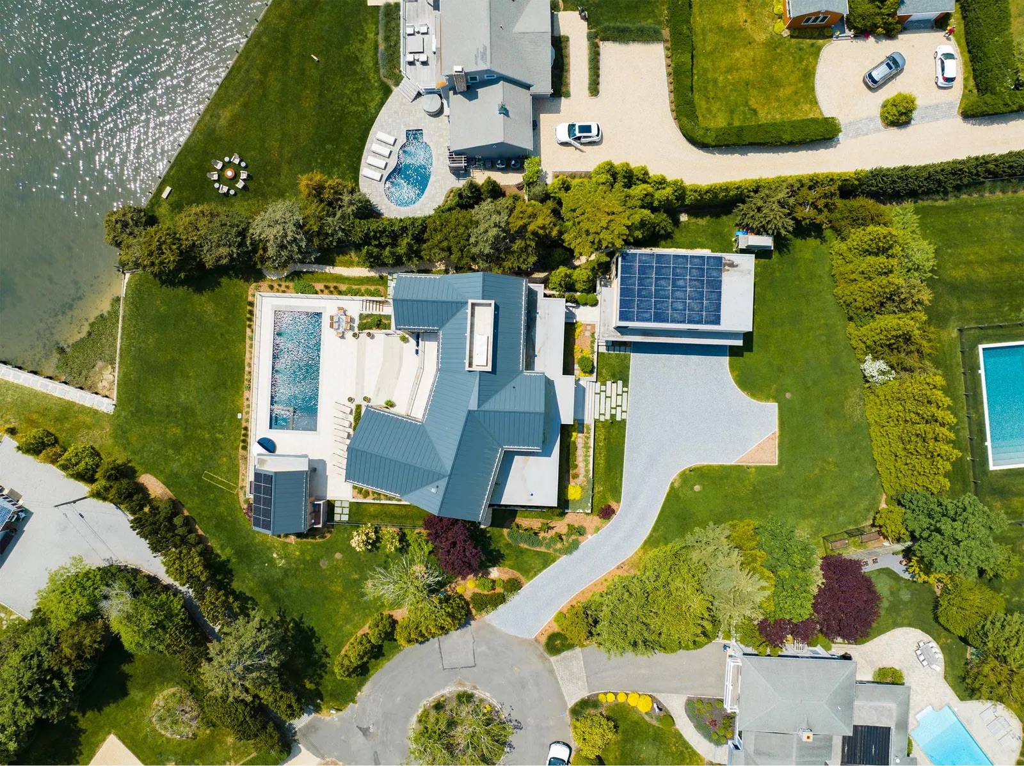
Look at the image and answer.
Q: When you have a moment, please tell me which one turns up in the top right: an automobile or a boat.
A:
automobile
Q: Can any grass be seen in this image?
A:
Yes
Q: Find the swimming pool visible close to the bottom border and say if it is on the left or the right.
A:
right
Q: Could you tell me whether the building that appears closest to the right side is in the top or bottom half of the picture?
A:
top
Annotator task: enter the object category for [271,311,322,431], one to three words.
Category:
swimming pool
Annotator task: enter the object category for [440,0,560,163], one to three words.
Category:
house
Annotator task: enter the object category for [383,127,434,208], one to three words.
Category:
swimming pool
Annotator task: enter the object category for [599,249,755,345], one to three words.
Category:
building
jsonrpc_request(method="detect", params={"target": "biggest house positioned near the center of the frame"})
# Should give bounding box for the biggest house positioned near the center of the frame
[345,271,595,522]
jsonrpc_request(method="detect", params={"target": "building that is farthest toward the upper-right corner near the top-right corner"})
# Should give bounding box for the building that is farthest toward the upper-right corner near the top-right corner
[896,0,955,31]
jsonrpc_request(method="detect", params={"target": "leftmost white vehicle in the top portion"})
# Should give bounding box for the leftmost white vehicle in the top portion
[554,118,600,148]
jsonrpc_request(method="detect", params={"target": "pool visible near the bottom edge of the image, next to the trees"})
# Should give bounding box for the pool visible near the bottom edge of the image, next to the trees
[910,705,999,766]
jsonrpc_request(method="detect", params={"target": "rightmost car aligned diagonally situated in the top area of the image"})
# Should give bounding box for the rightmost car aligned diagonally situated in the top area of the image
[858,50,904,92]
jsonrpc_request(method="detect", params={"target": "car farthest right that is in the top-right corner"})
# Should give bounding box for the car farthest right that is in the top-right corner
[928,47,953,91]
